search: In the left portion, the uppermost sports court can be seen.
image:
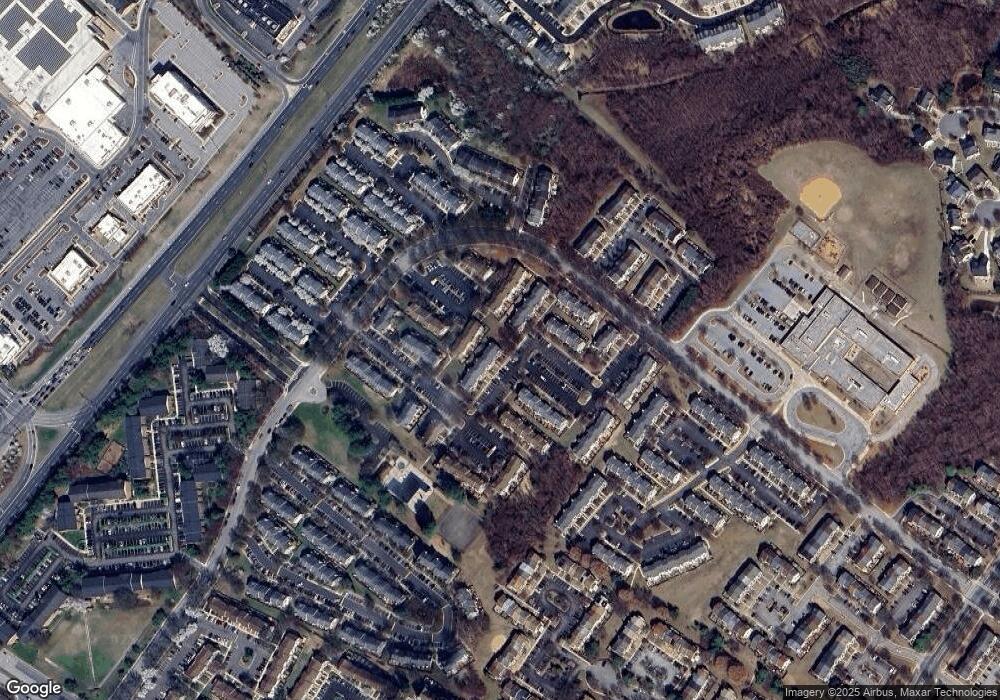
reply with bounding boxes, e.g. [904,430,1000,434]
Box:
[97,439,125,472]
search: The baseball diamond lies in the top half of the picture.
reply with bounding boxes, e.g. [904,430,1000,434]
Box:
[799,177,842,222]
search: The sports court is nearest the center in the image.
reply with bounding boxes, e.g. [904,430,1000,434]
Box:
[440,503,480,551]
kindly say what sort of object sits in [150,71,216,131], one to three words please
building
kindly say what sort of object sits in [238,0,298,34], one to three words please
building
